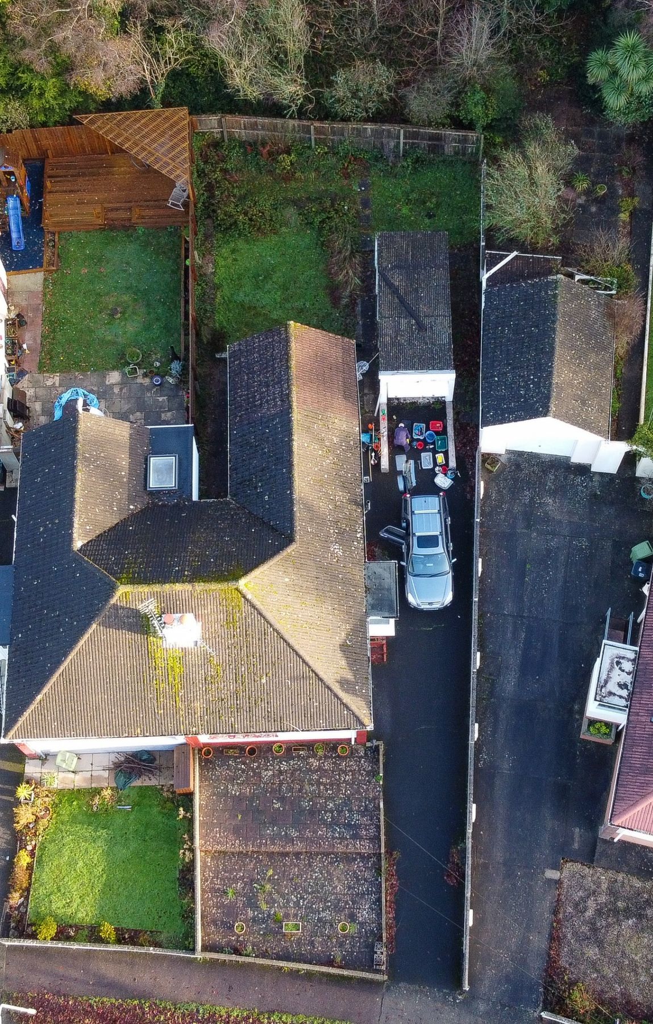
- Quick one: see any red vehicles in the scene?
No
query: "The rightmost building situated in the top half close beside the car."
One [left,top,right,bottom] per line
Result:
[477,275,618,464]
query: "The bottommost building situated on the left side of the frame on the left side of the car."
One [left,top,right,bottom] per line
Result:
[0,320,400,755]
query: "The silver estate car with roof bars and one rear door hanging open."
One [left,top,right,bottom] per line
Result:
[381,490,459,612]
